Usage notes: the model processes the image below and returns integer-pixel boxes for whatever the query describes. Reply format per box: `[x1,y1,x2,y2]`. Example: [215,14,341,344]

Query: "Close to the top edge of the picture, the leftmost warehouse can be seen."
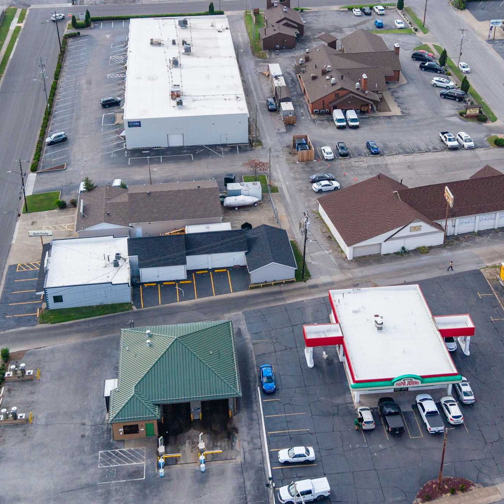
[118,15,248,150]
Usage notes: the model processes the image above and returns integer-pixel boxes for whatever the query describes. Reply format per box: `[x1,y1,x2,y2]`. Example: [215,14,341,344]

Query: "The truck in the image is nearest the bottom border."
[276,478,333,504]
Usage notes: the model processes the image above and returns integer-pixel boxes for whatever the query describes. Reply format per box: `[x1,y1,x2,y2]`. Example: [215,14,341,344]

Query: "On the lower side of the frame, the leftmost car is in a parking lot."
[258,364,276,392]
